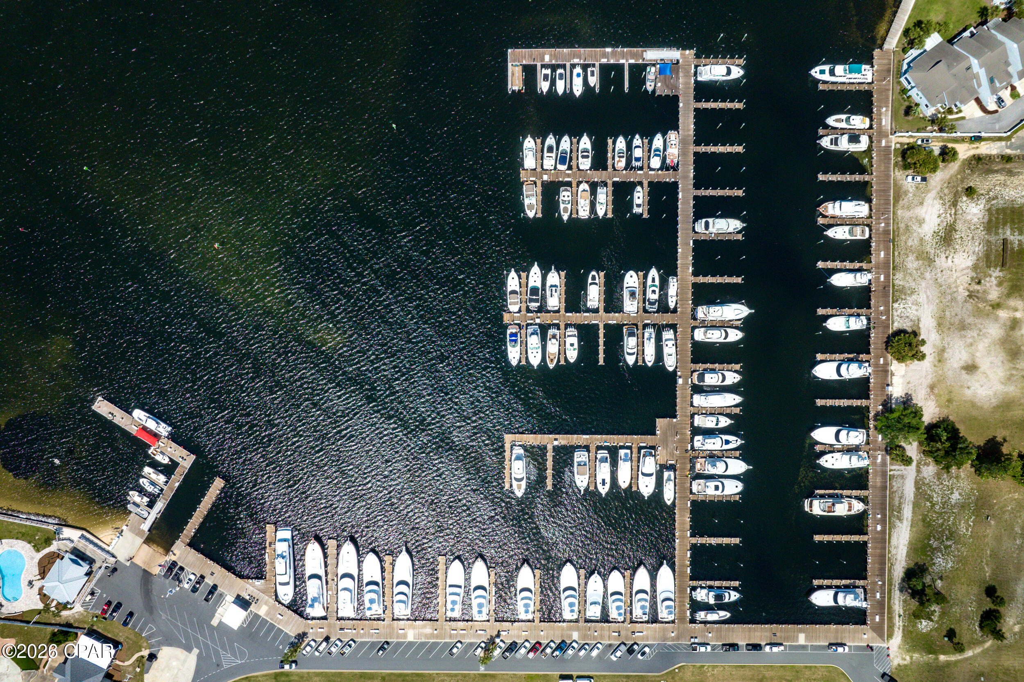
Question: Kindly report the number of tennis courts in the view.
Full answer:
No tennis courts are visible.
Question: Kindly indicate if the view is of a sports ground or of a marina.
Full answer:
What you see here is a marina.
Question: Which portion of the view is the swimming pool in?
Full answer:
You can find the swimming pool in the bottom left area of the picture.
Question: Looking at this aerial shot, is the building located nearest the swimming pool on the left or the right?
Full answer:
It is on the left.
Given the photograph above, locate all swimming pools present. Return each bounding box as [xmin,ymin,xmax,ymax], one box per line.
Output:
[0,548,26,603]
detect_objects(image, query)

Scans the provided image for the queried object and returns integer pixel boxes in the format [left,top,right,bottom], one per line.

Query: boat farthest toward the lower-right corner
[809,588,887,616]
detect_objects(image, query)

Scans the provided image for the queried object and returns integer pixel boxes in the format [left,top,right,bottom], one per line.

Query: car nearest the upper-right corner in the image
[993,94,1005,109]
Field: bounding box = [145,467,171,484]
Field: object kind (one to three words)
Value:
boat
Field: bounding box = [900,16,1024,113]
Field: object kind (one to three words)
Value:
building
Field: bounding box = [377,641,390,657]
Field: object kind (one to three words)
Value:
vehicle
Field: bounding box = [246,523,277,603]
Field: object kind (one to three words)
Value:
pier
